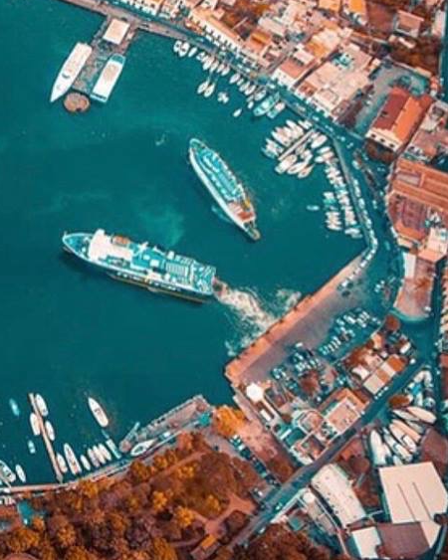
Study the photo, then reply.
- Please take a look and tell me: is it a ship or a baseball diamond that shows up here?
ship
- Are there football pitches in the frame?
No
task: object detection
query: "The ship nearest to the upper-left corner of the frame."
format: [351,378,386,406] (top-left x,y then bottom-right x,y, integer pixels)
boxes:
[50,43,89,102]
